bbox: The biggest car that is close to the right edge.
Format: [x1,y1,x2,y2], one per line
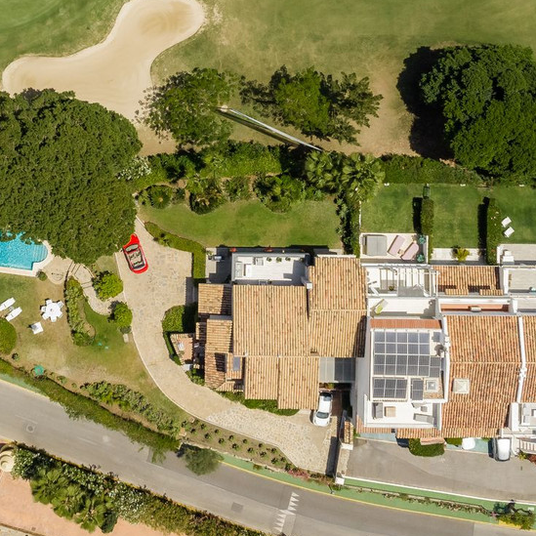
[494,438,518,464]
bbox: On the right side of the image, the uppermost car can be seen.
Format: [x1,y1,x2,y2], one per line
[313,390,336,431]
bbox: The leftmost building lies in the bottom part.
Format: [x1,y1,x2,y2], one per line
[193,245,368,409]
